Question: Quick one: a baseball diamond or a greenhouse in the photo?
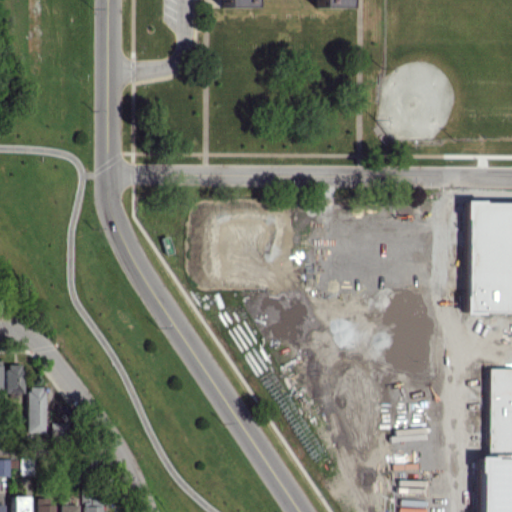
baseball diamond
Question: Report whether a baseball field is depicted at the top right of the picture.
Yes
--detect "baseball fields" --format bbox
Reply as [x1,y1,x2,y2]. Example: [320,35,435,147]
[380,60,454,139]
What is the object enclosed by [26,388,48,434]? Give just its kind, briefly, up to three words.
house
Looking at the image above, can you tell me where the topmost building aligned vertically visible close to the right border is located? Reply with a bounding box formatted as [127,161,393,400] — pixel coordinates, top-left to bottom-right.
[463,200,512,316]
